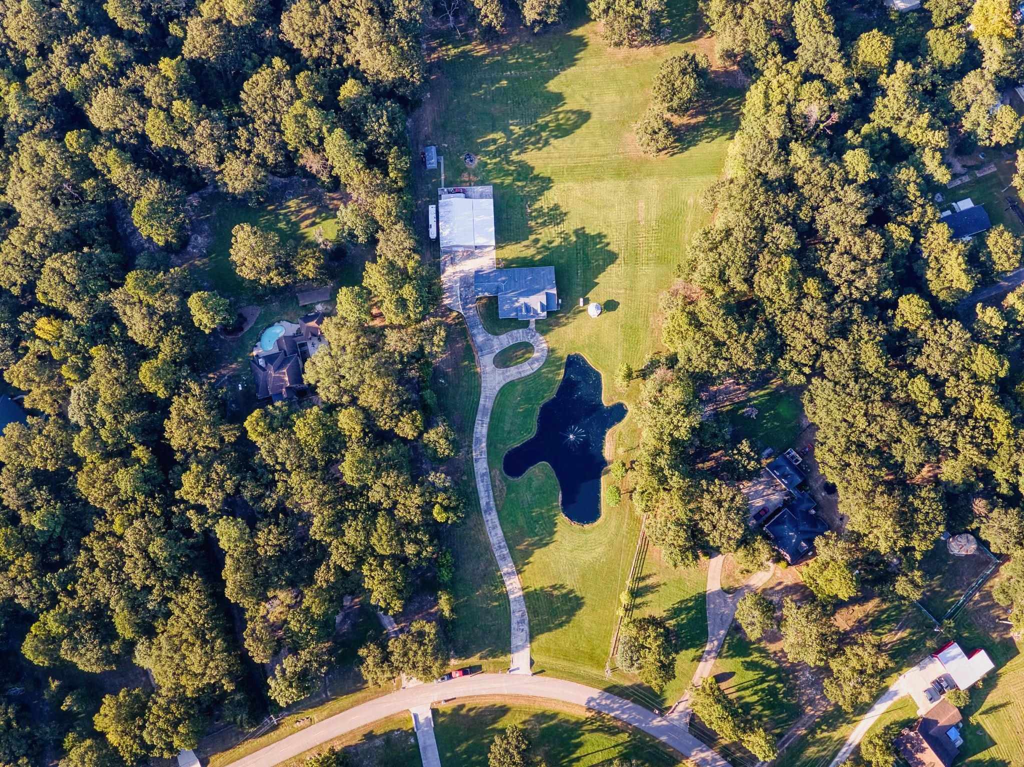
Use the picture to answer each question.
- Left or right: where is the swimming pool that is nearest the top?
left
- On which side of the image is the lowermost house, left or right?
right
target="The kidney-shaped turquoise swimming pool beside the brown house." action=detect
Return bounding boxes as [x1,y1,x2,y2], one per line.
[259,324,286,351]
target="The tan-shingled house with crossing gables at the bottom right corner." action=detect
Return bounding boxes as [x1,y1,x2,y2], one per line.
[892,698,963,767]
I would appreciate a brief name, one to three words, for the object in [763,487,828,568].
house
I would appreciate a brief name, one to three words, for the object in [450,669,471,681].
vehicle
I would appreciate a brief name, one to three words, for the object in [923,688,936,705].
vehicle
